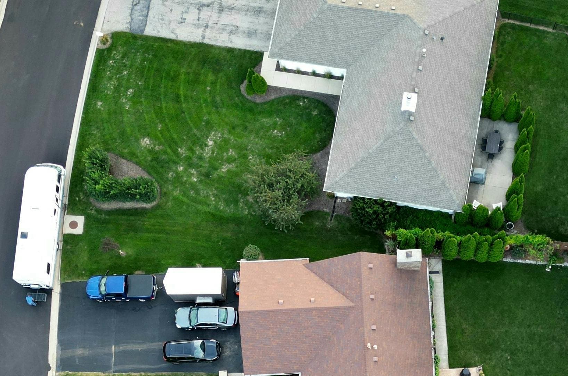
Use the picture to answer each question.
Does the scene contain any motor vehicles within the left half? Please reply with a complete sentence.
Yes, the scene does show a motor vehicle within the left half.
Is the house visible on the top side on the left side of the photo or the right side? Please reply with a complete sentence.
You can find the house visible on the top side on the right side of the picture.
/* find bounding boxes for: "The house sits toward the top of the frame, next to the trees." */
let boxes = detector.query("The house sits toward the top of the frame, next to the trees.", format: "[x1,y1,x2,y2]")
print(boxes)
[266,0,501,219]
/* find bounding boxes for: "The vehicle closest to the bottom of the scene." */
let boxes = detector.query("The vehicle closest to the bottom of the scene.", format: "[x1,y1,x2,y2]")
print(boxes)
[164,336,223,366]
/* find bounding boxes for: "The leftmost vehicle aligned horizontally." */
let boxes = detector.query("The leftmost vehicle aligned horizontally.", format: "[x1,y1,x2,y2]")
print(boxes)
[87,268,160,303]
